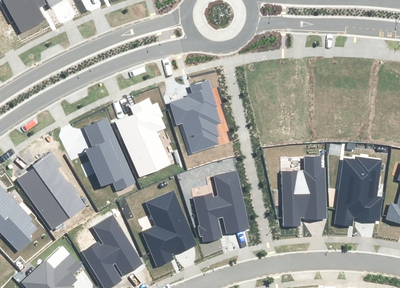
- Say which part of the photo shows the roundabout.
top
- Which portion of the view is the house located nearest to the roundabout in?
center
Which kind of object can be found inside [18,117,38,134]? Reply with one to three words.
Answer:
vehicle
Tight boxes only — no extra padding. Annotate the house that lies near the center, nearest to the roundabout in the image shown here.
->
[170,80,222,155]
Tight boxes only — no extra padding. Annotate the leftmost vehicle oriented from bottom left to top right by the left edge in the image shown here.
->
[0,148,14,163]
